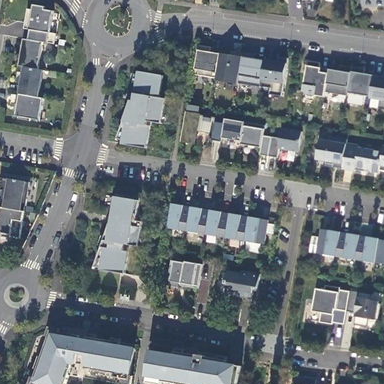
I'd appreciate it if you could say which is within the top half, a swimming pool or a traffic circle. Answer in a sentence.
There is a traffic circle within the top half.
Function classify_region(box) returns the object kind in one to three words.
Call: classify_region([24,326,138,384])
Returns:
building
